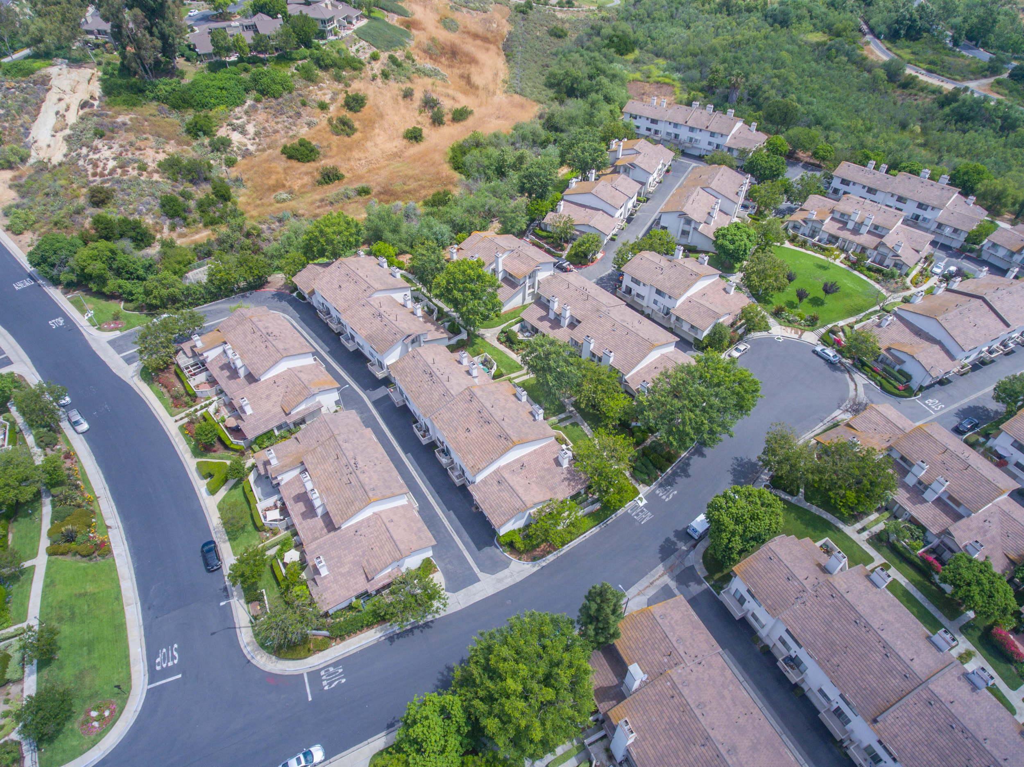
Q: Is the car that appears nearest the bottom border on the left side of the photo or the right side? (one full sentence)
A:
It is on the left.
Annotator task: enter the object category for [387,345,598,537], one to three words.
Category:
house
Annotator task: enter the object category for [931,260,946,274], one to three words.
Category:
car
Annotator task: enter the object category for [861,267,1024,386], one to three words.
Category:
house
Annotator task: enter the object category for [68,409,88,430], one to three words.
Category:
car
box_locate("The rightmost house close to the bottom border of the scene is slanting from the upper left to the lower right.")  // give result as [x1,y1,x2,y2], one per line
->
[722,537,1024,767]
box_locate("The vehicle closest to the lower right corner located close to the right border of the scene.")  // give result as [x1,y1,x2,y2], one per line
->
[953,416,978,434]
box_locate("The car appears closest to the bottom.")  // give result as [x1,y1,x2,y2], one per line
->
[272,745,322,767]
